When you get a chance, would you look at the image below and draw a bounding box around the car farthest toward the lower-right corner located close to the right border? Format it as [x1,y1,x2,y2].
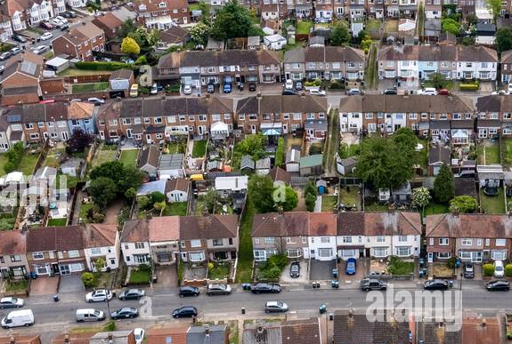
[485,279,511,292]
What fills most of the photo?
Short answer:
buildings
